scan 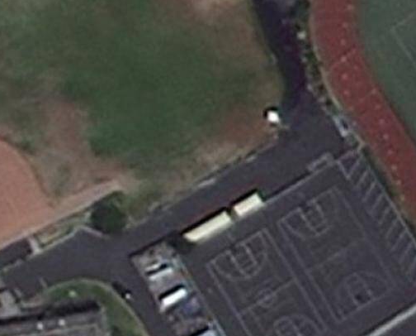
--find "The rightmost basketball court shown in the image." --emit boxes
[277,186,393,320]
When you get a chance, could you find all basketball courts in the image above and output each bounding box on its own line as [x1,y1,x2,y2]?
[209,231,325,336]
[277,186,393,320]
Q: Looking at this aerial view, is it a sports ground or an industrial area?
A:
sports ground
